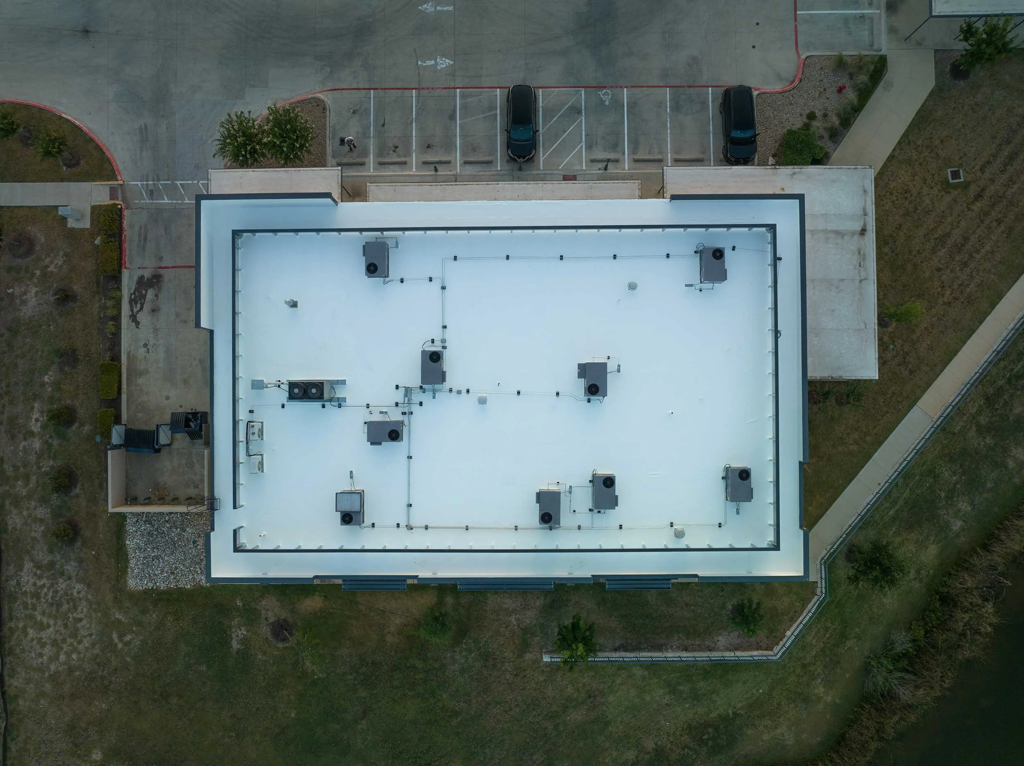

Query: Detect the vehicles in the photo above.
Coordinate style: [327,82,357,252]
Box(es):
[720,85,761,163]
[503,83,540,162]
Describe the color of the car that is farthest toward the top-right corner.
black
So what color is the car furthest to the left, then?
black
